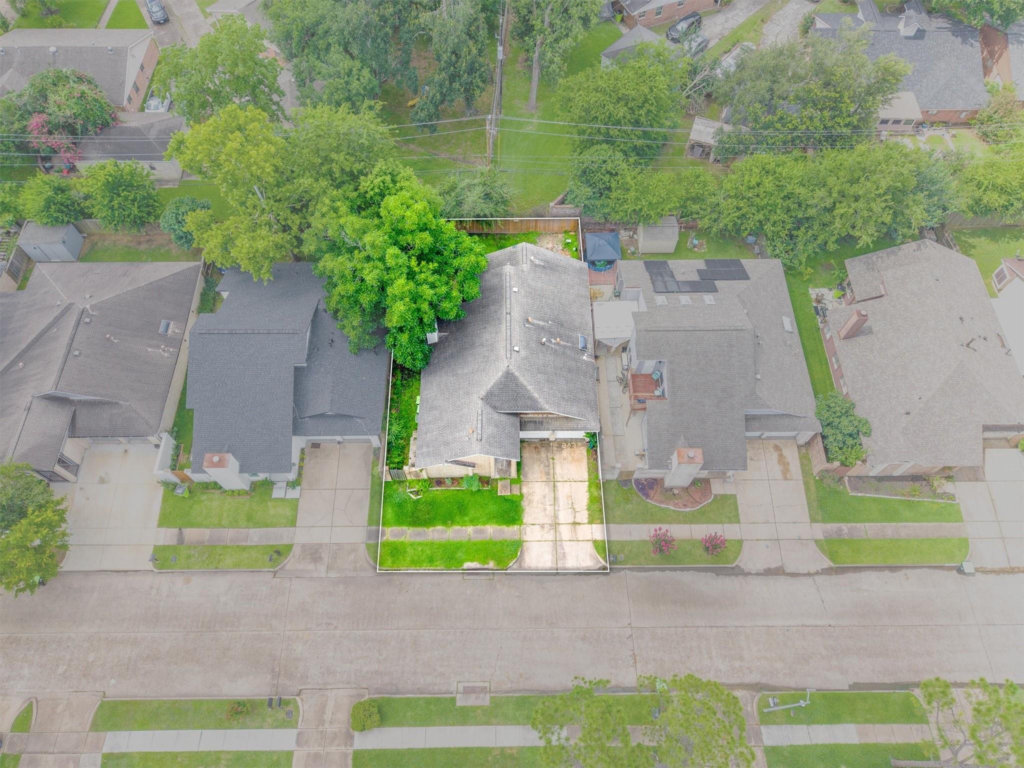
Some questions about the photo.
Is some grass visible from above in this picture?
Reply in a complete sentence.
Yes, there is grass in the image.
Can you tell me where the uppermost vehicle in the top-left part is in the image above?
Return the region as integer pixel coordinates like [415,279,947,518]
[140,0,171,27]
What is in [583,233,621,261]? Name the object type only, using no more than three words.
gazebo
